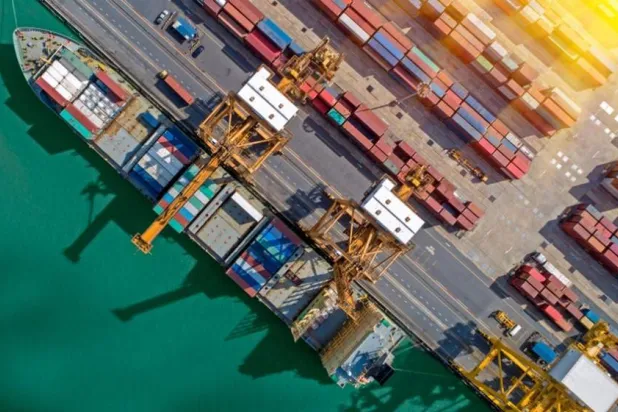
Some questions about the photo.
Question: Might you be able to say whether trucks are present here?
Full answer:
Yes, there is a truck in the image.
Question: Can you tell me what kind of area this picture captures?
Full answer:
This looks like a port.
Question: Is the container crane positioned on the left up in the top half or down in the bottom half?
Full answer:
The container crane positioned on the left is in the top half of the image.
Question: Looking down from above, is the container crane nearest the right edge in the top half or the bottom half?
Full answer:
The container crane nearest the right edge is in the bottom half of the image.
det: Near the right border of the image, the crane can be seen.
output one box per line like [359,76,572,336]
[445,308,618,412]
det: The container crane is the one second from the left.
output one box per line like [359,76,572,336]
[300,156,448,341]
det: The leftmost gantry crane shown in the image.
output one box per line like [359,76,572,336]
[124,27,340,261]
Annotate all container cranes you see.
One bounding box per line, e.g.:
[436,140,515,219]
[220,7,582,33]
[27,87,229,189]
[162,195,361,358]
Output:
[300,156,448,341]
[124,27,340,261]
[445,308,618,412]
